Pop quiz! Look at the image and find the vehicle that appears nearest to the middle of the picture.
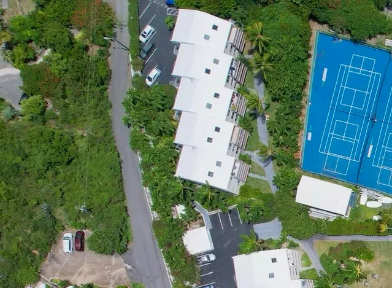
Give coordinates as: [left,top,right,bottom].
[146,68,161,85]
